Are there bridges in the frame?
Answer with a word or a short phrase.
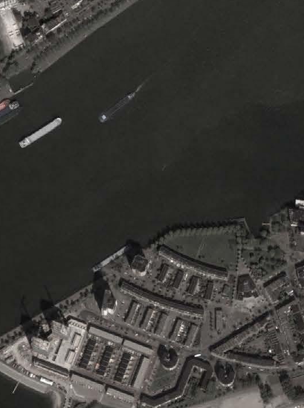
No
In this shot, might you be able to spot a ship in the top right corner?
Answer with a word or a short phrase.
No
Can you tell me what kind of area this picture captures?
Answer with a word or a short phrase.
residential area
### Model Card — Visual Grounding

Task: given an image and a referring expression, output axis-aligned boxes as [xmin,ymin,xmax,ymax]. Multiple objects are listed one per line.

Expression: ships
[99,93,136,121]
[0,99,10,108]
[0,104,20,120]
[20,119,61,147]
